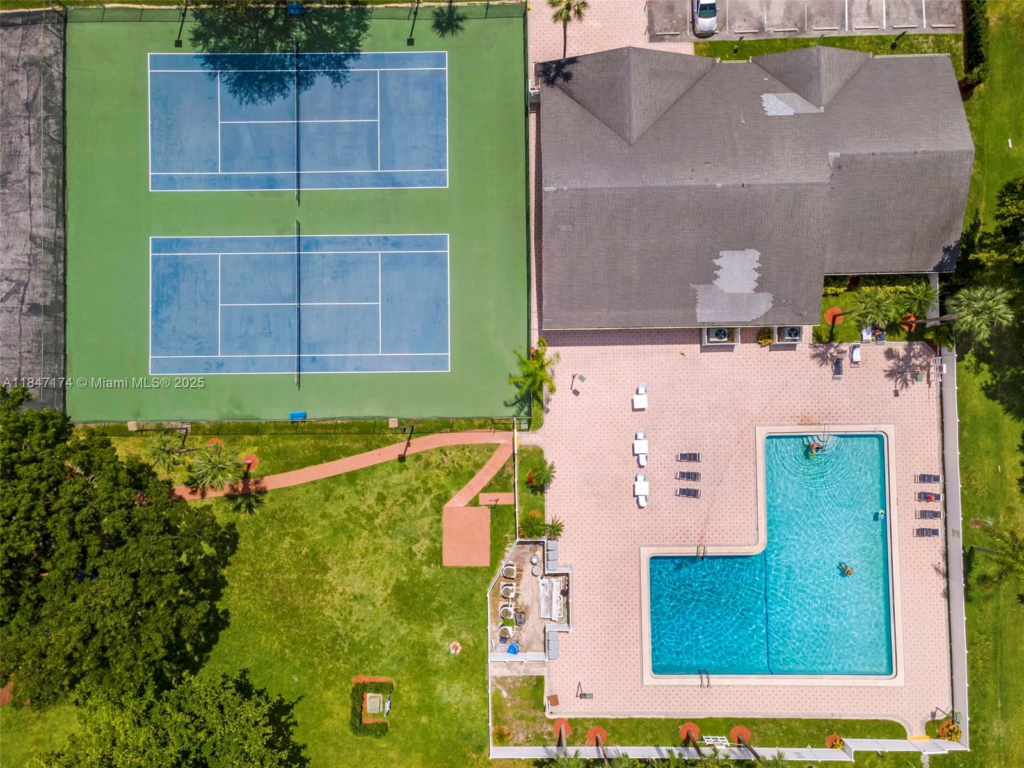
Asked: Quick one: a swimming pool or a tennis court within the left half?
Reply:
tennis court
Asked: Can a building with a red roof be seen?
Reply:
No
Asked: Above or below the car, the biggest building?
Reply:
below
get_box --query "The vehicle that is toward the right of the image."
[693,0,722,38]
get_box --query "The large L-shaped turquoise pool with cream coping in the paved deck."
[640,425,904,686]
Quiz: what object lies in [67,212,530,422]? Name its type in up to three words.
tennis court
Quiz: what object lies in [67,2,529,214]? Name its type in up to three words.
tennis court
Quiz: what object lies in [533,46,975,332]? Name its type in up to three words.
building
